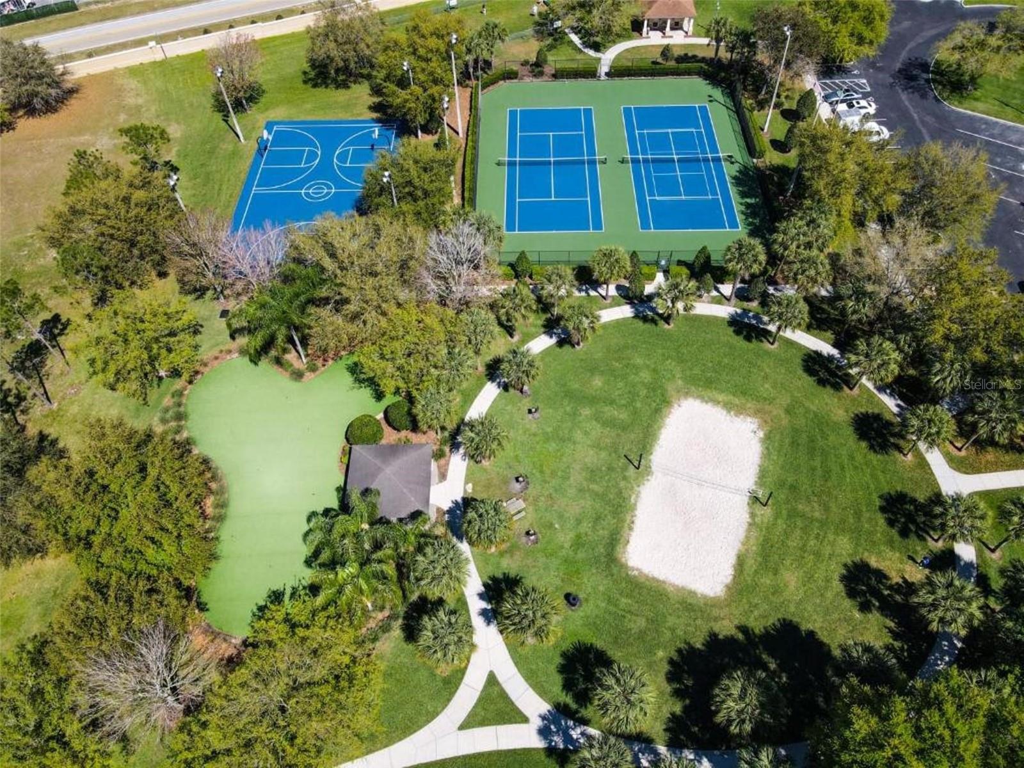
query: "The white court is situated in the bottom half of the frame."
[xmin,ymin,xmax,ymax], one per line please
[625,398,764,597]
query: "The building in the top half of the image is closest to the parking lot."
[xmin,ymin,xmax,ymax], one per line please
[637,0,702,39]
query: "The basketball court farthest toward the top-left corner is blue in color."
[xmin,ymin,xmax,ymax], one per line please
[211,119,399,276]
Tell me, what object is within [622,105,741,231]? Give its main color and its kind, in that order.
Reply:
blue tennis court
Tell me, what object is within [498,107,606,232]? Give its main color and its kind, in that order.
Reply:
blue tennis court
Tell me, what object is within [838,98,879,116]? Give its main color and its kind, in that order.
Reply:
white car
